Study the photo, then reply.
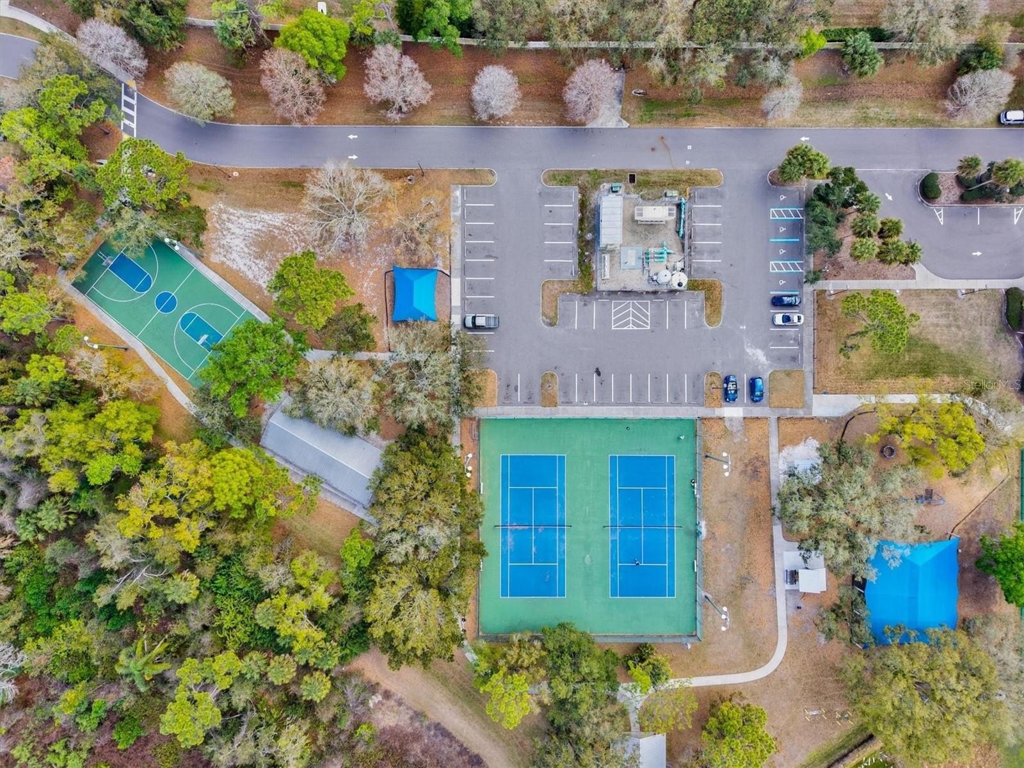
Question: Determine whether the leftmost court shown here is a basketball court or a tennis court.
basketball court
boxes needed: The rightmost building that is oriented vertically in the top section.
[599,195,622,254]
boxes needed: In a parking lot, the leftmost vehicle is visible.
[464,315,499,330]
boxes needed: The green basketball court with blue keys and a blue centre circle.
[71,213,261,392]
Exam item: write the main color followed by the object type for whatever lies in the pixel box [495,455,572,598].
blue tennis court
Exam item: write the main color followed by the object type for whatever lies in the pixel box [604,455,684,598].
blue tennis court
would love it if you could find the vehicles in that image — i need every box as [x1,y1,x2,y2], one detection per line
[771,294,800,308]
[772,312,803,326]
[724,375,738,403]
[318,1,328,18]
[1000,110,1024,125]
[464,315,499,330]
[750,377,764,402]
